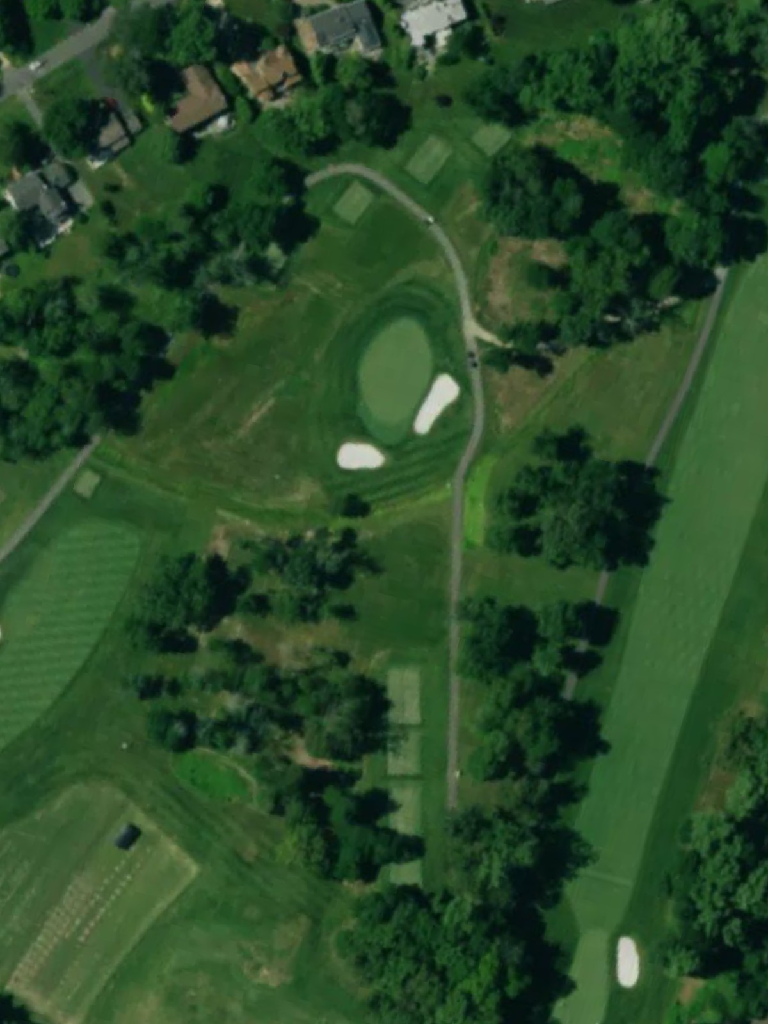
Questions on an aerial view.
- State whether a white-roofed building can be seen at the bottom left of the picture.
No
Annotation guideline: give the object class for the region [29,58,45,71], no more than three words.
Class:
vehicle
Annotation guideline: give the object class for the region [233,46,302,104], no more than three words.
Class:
house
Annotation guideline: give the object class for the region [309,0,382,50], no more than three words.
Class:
house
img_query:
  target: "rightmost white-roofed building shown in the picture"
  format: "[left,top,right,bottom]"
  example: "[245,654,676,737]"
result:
[400,0,470,45]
